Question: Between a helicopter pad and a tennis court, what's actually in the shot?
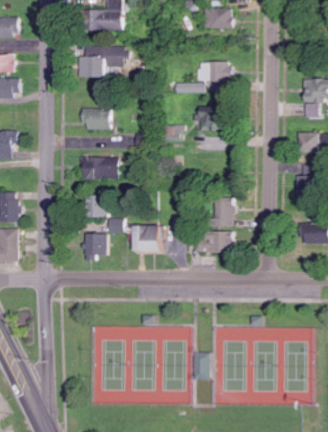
tennis court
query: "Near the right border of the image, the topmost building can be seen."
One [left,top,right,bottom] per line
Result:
[303,78,328,103]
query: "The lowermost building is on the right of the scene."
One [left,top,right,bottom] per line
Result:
[194,352,214,378]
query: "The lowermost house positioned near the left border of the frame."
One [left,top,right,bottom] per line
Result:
[0,228,23,262]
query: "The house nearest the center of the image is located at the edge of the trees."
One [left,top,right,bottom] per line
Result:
[132,225,161,252]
